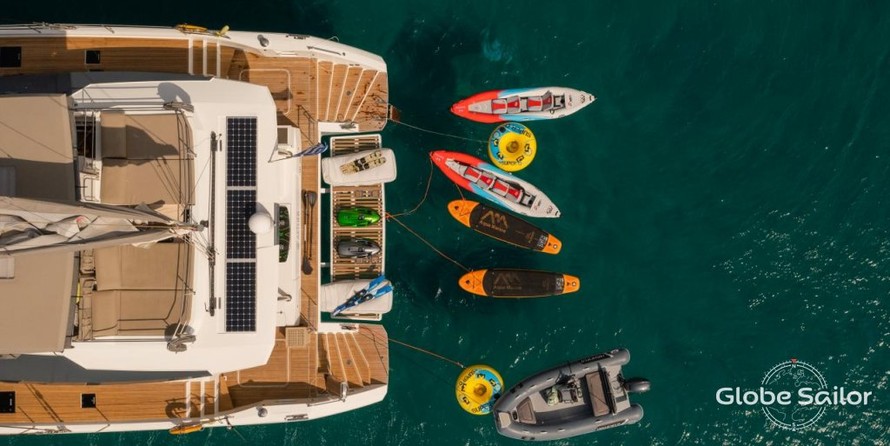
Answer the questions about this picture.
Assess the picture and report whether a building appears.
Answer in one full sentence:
No, there isn't any building down there.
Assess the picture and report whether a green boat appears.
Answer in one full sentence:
No, there is no green boat in the image.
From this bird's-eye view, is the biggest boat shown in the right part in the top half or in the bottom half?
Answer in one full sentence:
It is in the bottom half that the biggest boat shown in the right part appears.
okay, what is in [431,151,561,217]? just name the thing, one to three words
boat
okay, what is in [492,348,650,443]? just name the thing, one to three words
boat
